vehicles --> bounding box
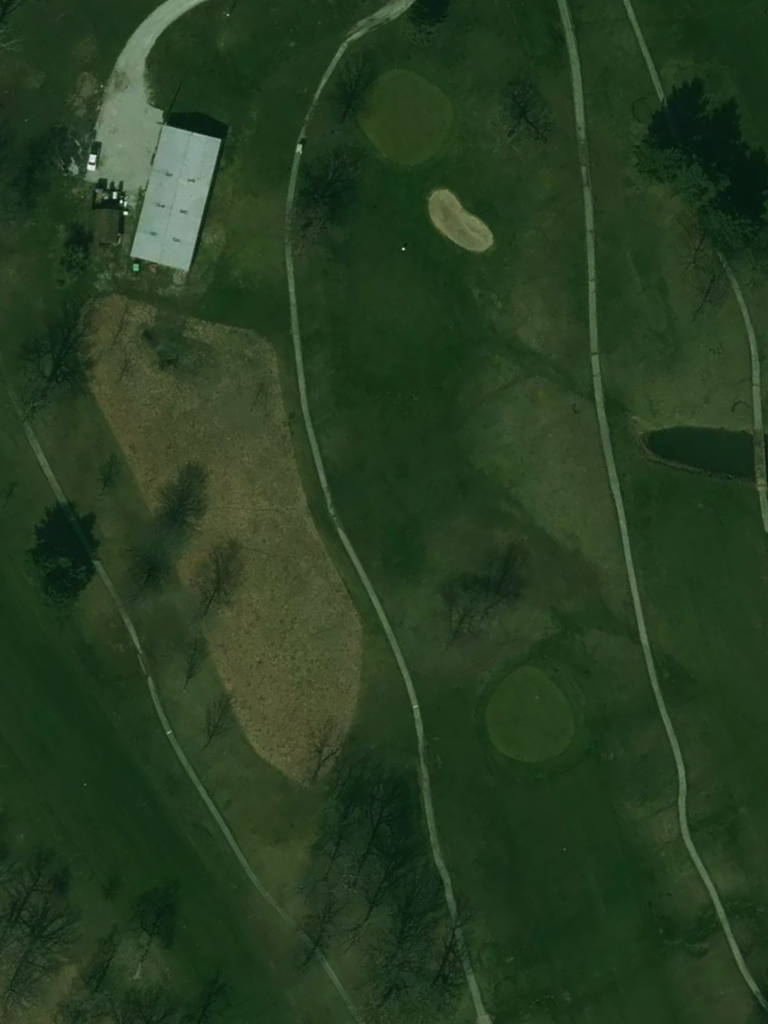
[95,187,104,206]
[112,190,118,200]
[296,143,302,152]
[88,148,97,171]
[103,192,109,202]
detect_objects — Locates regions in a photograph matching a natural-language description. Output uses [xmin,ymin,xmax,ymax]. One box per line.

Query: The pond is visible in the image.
[641,425,768,482]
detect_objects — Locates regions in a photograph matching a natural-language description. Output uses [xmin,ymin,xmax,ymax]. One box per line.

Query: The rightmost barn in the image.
[132,125,221,270]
